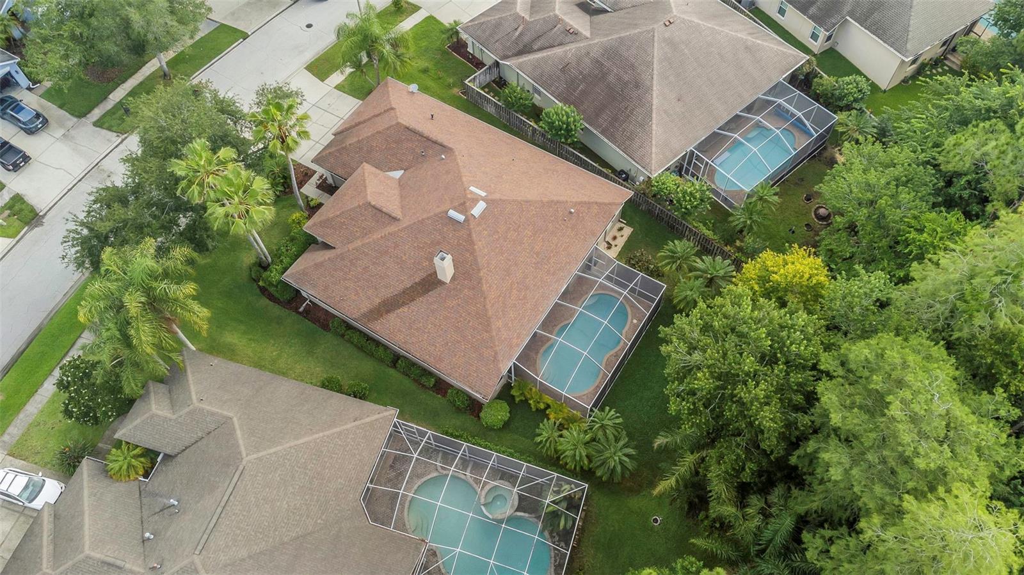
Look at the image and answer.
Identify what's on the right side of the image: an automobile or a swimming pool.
swimming pool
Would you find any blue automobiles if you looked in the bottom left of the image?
No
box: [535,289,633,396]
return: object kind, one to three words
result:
swimming pool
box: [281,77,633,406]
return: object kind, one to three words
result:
house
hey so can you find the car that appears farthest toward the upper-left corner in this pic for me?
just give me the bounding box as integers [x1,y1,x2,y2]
[0,101,48,135]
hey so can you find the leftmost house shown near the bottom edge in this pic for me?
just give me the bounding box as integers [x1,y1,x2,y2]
[0,347,426,575]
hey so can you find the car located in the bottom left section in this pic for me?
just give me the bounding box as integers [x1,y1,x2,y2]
[0,460,64,504]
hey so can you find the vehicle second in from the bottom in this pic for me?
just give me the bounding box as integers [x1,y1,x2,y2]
[0,135,34,172]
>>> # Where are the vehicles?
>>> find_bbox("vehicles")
[0,460,64,504]
[0,101,48,135]
[0,135,34,172]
